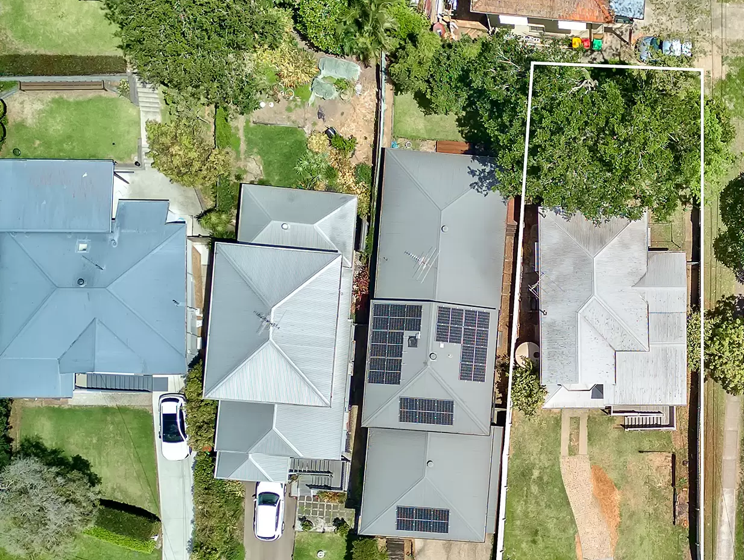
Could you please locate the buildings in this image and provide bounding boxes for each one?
[356,146,512,543]
[536,205,689,411]
[469,0,647,39]
[0,158,200,401]
[201,183,361,485]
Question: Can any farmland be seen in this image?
No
